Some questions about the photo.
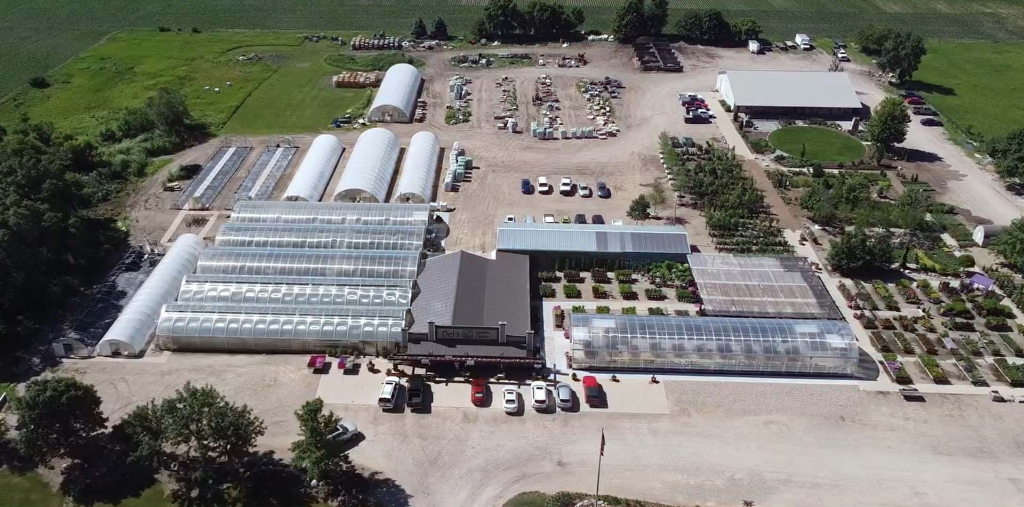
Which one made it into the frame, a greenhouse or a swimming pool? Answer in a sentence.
Looking from above, you can make out a greenhouse.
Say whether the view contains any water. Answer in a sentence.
No, there's no water in this view.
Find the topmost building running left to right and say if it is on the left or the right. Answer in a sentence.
The topmost building running left to right is on the right side of the image.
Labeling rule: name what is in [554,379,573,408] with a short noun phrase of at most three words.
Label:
car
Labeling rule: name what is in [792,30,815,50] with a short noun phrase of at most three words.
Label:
vehicle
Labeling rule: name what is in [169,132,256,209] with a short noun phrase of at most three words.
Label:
house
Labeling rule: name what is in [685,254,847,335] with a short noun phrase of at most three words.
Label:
house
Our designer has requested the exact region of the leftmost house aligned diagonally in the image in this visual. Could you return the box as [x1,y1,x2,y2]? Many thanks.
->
[47,227,174,359]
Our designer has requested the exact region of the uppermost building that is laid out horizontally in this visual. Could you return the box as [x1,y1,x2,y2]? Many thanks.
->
[712,70,862,122]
